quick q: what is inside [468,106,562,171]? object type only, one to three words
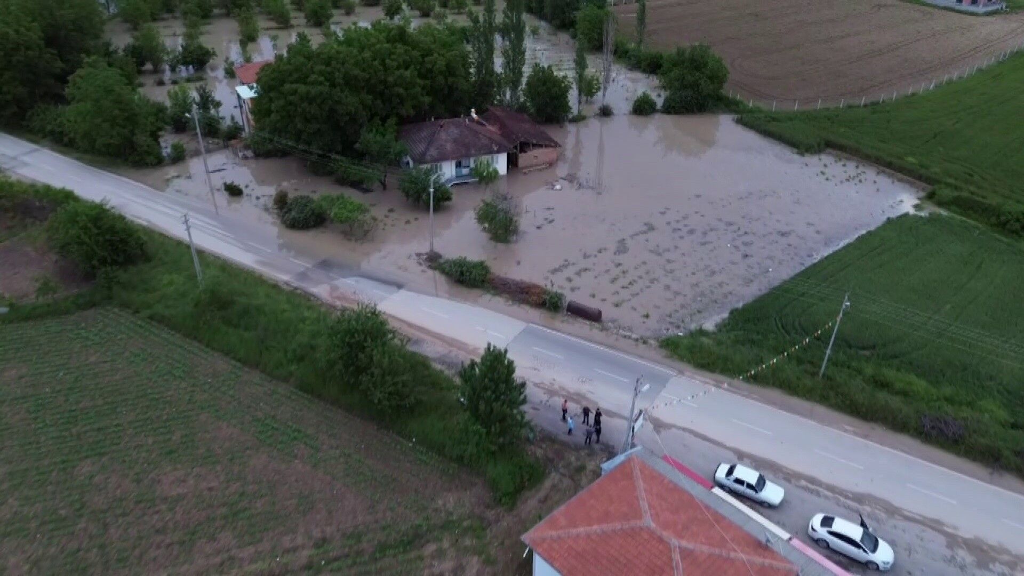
barn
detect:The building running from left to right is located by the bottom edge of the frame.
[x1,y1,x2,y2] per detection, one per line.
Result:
[508,442,827,576]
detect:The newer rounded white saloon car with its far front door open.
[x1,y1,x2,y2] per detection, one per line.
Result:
[813,514,896,570]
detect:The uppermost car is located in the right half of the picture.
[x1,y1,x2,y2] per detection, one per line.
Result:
[716,465,786,509]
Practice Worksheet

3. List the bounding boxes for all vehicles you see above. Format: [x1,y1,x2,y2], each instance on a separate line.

[716,465,786,509]
[813,514,896,570]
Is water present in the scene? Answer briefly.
Yes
